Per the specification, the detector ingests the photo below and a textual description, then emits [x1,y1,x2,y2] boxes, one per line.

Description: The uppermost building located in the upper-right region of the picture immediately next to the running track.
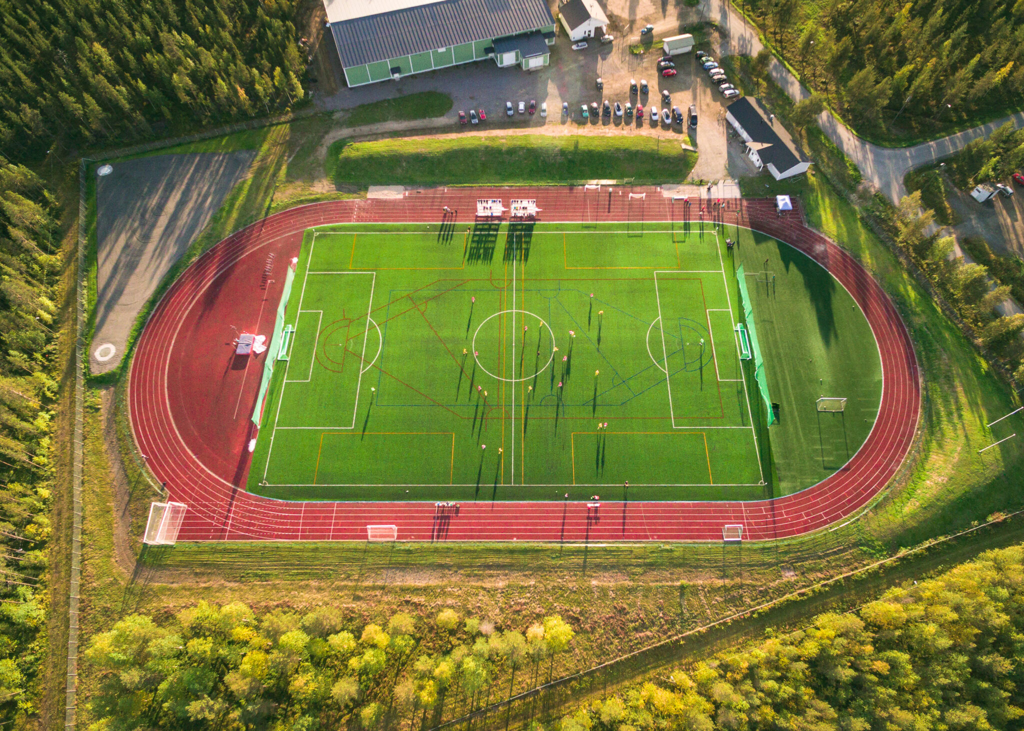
[726,96,815,181]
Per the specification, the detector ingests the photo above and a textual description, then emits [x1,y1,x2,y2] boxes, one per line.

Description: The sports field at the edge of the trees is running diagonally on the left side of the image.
[87,150,257,373]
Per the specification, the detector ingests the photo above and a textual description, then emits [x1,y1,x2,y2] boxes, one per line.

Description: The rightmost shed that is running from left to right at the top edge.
[664,34,697,54]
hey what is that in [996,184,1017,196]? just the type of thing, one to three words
vehicle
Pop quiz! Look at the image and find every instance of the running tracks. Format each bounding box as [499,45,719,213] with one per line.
[128,184,922,541]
